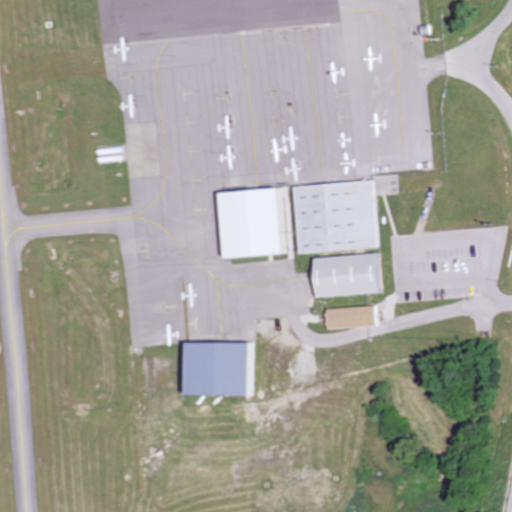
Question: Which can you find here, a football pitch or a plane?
plane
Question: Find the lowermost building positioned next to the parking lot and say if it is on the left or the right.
right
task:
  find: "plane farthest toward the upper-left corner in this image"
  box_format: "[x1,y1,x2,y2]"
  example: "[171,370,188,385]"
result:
[112,37,131,62]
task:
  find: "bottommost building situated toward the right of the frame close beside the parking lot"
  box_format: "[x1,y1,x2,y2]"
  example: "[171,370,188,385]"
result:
[324,306,378,329]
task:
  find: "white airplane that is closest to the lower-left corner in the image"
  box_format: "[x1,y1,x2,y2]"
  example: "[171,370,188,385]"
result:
[164,322,182,347]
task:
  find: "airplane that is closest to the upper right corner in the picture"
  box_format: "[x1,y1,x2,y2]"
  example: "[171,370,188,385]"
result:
[364,48,382,71]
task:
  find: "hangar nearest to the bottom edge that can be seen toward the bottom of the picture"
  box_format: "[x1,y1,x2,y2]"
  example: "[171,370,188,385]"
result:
[182,342,254,396]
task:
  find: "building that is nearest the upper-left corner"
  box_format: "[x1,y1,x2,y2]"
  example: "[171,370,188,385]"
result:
[220,188,288,258]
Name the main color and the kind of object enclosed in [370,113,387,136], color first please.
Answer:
white airplane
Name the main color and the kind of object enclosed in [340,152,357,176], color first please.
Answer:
white airplane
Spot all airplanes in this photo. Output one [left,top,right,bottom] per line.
[340,152,357,176]
[216,115,235,140]
[280,126,300,151]
[119,94,139,118]
[282,157,302,182]
[178,283,198,308]
[164,322,182,347]
[217,145,237,170]
[338,132,351,148]
[370,113,387,136]
[270,138,288,163]
[326,61,344,84]
[112,37,131,62]
[364,48,382,71]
